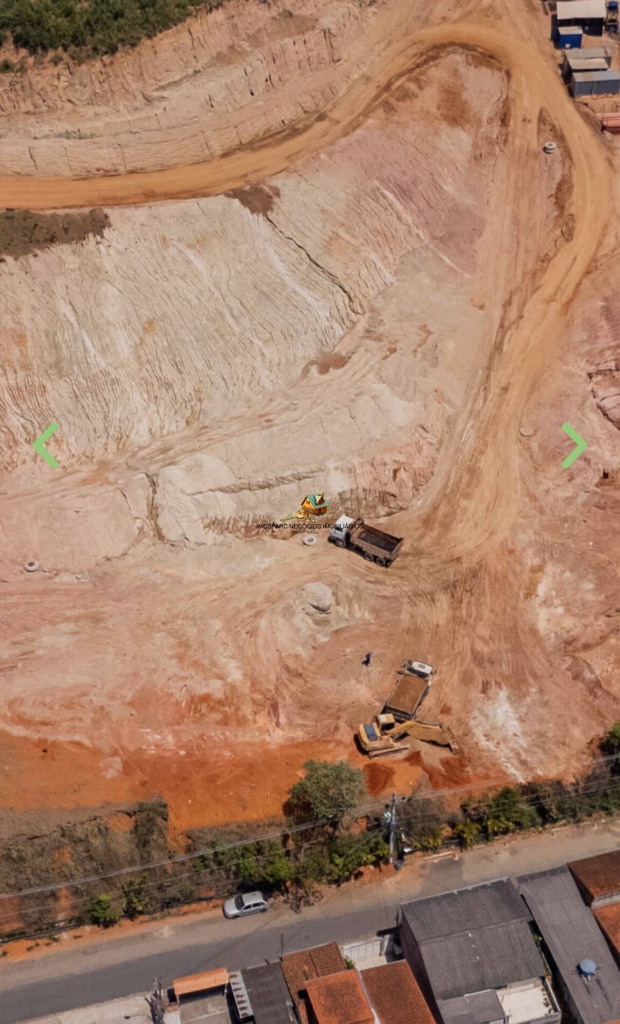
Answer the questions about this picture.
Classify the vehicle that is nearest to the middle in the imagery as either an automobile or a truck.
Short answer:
truck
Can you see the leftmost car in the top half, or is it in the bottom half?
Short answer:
bottom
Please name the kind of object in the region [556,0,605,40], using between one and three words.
shed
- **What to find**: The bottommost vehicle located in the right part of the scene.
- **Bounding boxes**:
[357,708,463,759]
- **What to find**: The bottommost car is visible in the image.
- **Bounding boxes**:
[221,888,272,919]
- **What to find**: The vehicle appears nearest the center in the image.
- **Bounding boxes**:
[326,513,406,568]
